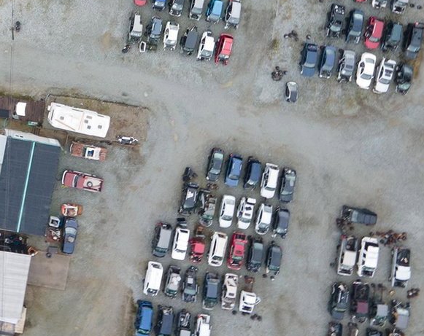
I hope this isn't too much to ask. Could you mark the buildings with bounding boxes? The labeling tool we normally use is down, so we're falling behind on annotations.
[0,129,60,236]
[0,244,31,325]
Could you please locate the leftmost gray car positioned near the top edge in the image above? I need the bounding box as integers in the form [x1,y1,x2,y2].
[125,10,145,40]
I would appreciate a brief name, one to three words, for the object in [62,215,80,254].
car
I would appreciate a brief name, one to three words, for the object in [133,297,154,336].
car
